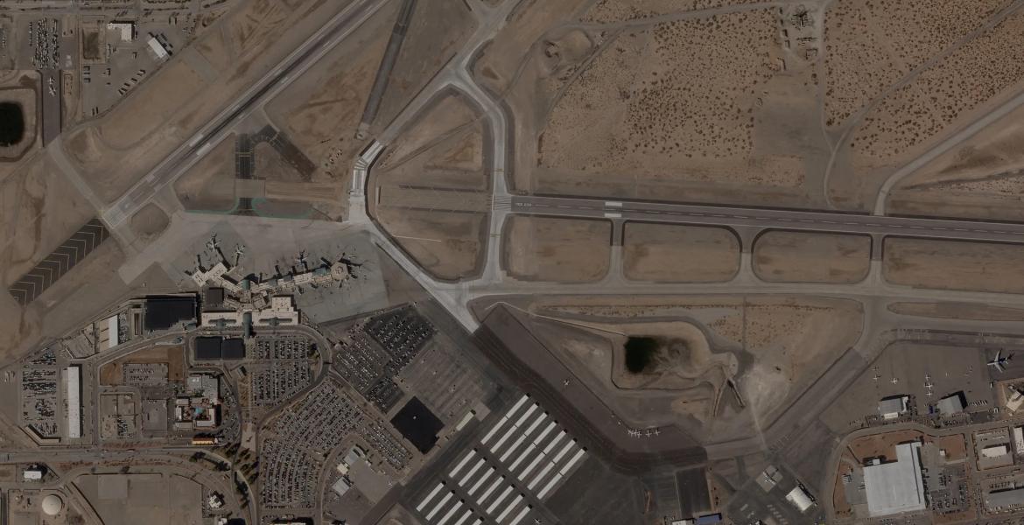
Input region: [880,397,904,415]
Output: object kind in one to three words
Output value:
hangar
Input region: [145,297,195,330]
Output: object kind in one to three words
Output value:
building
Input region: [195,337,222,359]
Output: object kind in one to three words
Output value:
building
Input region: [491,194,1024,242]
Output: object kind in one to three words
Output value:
runway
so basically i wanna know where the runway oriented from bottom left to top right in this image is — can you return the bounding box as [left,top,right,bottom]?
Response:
[102,0,386,230]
